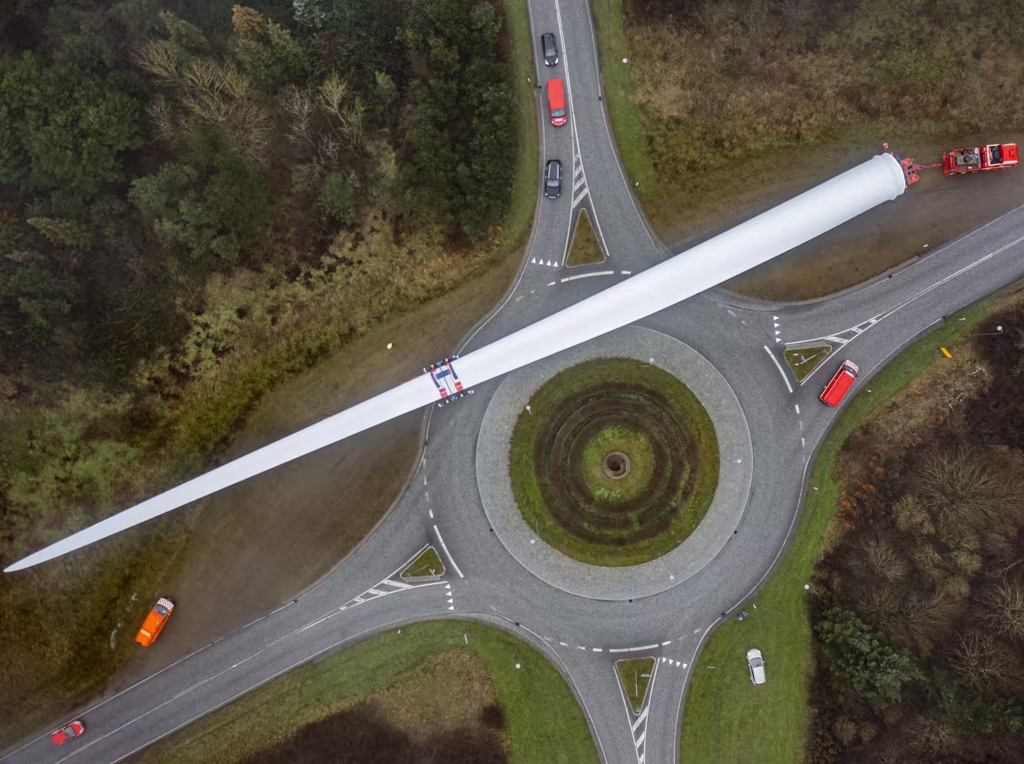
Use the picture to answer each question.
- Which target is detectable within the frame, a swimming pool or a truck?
truck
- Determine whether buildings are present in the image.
No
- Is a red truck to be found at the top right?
Yes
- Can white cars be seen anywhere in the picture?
Yes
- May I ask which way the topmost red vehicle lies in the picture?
vertically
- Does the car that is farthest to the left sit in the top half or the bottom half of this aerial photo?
bottom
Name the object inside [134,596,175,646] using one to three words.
van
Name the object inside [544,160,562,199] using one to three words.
car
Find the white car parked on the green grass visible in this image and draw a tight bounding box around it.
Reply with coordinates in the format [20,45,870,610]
[745,647,767,686]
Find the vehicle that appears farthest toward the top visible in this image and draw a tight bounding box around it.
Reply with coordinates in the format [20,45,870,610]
[541,31,559,68]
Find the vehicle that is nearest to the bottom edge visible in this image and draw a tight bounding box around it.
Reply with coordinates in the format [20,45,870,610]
[49,719,87,748]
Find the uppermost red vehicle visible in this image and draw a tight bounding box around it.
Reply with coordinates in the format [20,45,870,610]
[547,81,568,127]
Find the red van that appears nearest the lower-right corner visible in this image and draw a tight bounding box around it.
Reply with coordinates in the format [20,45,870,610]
[820,359,859,407]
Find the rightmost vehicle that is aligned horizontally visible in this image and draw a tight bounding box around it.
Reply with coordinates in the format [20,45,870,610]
[937,142,1022,178]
